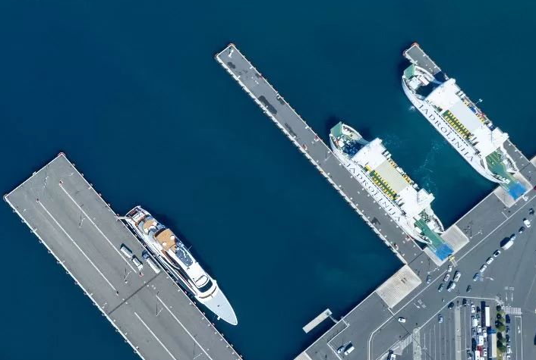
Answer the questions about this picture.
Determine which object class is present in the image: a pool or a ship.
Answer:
ship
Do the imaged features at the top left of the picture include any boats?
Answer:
No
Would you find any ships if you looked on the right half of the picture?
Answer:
Yes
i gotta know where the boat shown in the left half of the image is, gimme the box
[125,204,234,323]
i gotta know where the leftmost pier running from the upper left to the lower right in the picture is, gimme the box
[4,150,244,360]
